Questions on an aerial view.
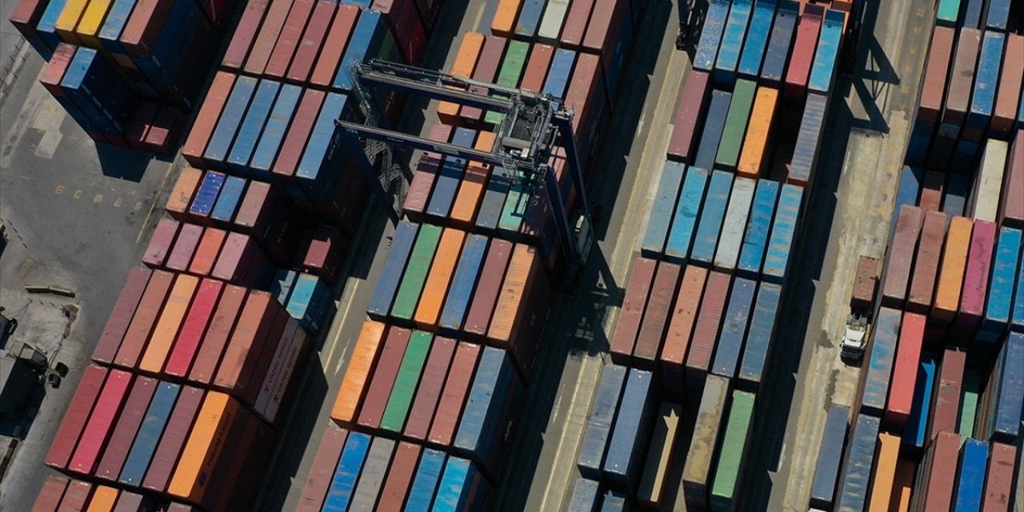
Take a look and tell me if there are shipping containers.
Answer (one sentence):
Yes, there's a shipping container down there.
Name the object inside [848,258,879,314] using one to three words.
shipping container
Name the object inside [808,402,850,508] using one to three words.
shipping container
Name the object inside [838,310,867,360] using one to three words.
truck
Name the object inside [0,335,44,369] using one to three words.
trailer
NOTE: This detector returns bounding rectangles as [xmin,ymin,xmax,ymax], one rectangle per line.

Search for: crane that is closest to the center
[330,47,601,299]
